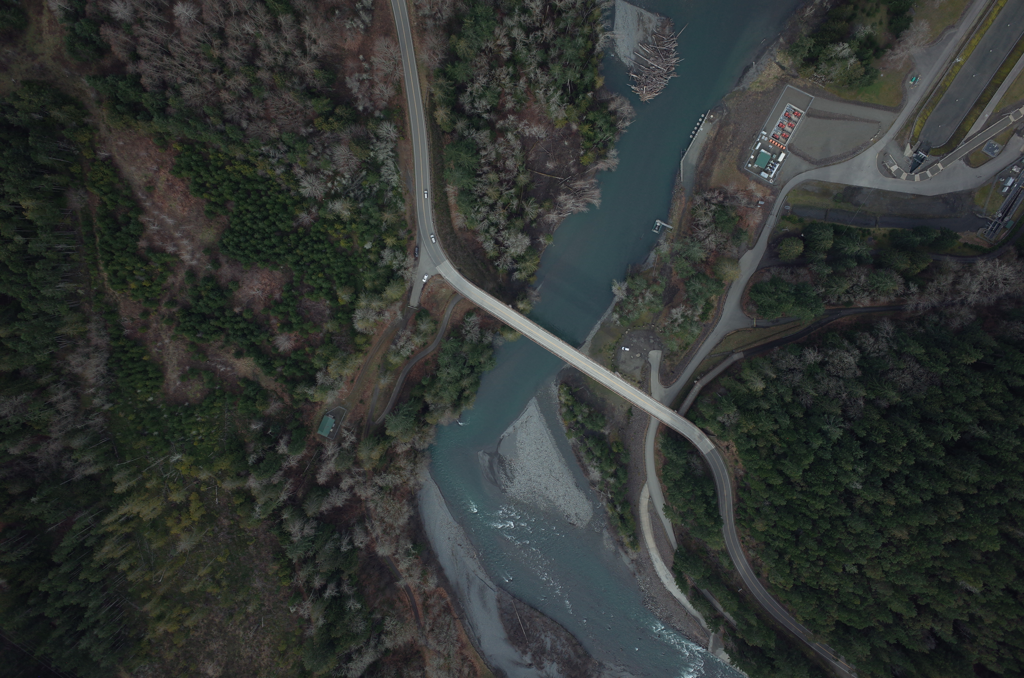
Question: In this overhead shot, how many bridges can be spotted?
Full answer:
In total, there is 1 bridge in the scene.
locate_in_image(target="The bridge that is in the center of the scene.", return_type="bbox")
[435,257,716,455]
